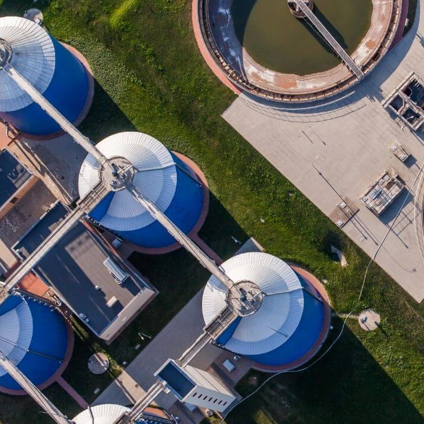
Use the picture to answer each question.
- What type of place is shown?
industrial area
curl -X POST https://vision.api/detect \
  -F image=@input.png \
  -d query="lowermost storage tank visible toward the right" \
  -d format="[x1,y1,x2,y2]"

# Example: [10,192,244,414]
[198,250,330,371]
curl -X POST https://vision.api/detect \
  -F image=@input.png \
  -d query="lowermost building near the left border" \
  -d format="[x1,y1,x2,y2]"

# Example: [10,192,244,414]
[12,201,156,342]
